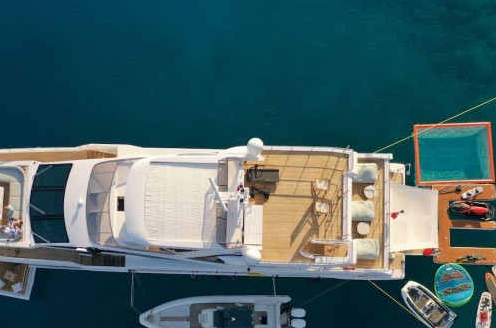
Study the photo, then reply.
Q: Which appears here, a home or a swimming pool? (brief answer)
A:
swimming pool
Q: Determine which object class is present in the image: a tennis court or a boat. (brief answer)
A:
boat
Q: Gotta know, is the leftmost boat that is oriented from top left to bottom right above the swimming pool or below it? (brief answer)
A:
below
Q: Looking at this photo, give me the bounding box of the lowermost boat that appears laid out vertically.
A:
[477,292,492,328]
